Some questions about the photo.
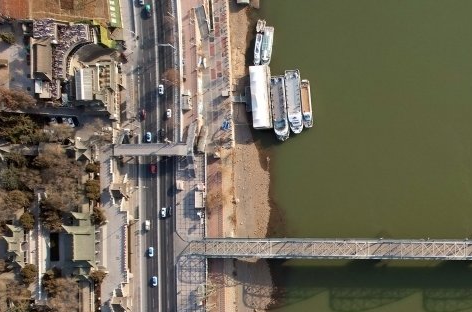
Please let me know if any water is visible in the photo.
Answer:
Yes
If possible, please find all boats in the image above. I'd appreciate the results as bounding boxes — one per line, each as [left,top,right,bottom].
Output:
[300,80,313,127]
[284,69,302,133]
[260,26,272,65]
[270,74,289,141]
[254,33,262,65]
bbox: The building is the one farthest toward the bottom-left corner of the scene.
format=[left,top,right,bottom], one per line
[0,223,28,268]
